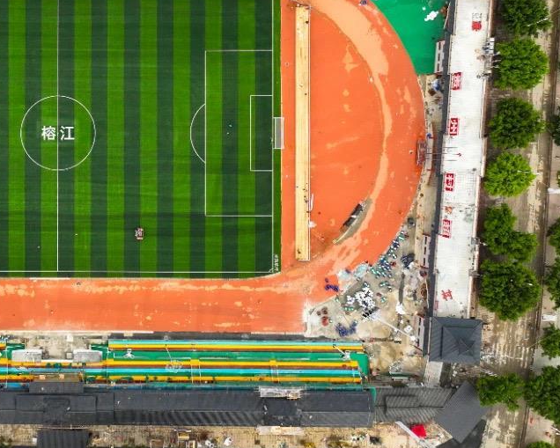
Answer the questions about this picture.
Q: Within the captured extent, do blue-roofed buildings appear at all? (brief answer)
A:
No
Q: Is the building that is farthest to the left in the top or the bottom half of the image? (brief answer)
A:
bottom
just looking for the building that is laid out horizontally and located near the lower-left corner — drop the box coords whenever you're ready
[37,425,89,448]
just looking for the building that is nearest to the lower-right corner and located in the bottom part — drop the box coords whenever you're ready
[435,376,486,444]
